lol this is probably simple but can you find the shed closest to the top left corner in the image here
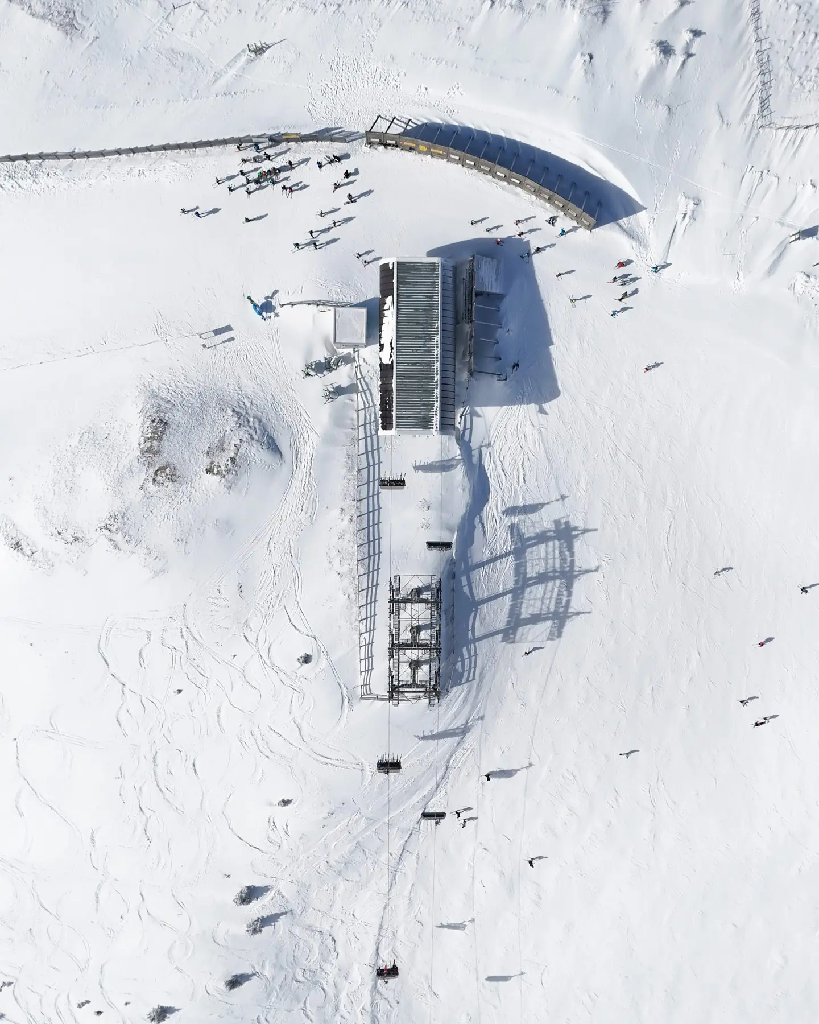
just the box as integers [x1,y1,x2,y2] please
[334,308,367,348]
